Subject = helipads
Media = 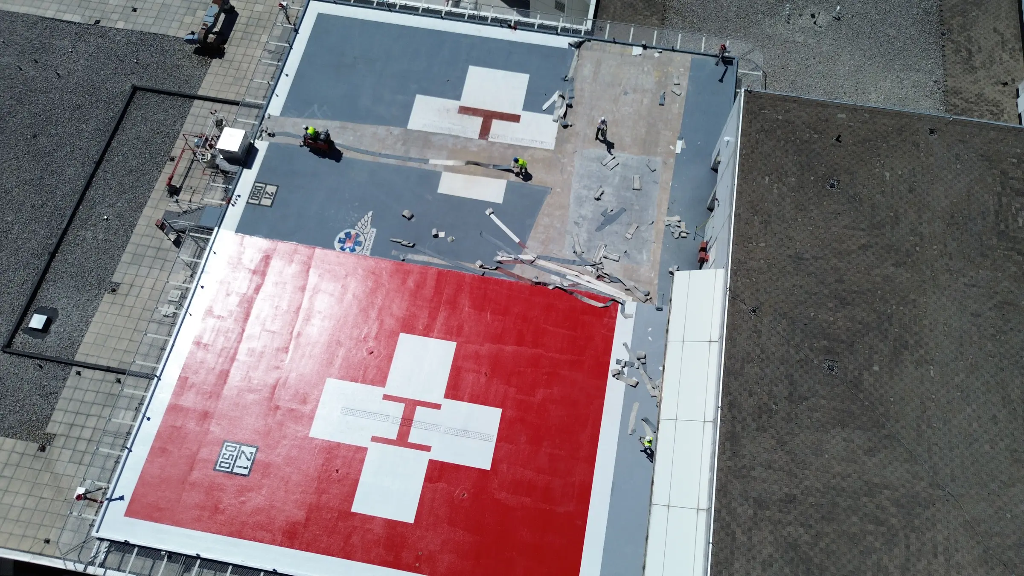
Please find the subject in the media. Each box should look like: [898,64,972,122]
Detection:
[87,0,740,576]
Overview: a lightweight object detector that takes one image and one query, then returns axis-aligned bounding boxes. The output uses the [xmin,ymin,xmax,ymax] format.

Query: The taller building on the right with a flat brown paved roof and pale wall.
[640,89,1024,576]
